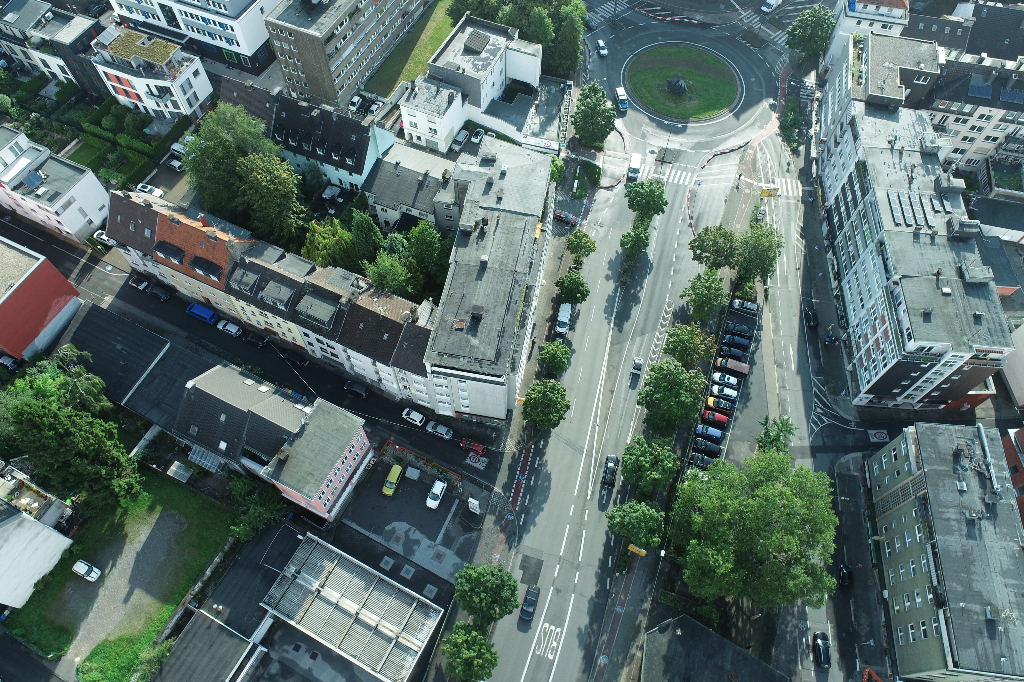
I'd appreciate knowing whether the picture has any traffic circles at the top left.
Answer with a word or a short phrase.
No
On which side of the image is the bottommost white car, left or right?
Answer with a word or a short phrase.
left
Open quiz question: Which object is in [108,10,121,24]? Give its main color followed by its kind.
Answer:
white vehicle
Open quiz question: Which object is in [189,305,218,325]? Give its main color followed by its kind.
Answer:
blue vehicle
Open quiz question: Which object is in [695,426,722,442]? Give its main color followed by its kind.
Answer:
blue car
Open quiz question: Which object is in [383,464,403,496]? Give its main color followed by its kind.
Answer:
green car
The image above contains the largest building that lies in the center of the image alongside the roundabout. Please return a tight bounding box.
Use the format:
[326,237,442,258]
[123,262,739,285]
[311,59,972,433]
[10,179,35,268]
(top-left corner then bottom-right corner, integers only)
[425,132,560,418]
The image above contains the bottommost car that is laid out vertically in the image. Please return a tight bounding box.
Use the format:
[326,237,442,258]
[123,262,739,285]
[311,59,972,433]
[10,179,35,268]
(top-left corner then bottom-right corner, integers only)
[812,632,831,669]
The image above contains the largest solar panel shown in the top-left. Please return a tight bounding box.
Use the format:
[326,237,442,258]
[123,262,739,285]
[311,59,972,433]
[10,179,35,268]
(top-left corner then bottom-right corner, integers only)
[22,164,42,180]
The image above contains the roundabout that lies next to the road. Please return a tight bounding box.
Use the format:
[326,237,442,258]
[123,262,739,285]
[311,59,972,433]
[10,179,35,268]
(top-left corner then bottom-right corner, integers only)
[589,23,777,154]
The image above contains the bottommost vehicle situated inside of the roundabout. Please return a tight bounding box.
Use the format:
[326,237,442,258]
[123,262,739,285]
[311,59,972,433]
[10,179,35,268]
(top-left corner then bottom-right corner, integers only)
[616,88,628,110]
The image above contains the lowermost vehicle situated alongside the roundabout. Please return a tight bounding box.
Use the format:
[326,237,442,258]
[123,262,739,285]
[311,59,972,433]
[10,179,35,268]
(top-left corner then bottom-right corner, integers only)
[628,149,643,177]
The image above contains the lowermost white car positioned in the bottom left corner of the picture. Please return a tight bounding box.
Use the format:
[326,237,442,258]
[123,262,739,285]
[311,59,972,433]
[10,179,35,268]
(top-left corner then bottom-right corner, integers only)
[71,561,103,581]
